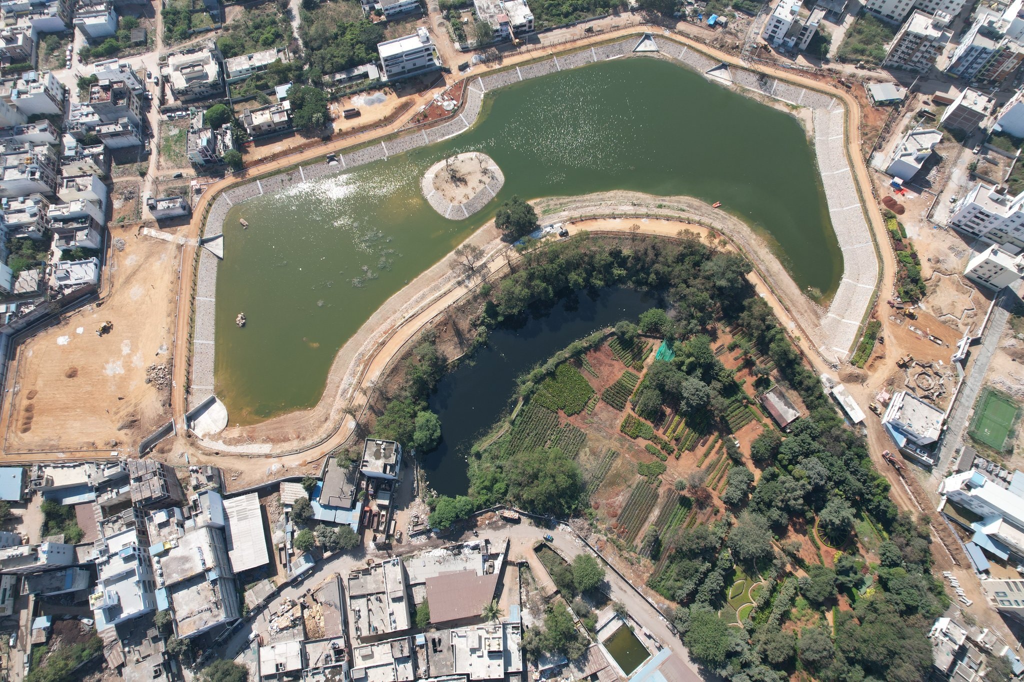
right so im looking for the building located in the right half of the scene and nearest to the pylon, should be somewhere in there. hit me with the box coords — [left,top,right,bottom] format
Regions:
[761,0,802,50]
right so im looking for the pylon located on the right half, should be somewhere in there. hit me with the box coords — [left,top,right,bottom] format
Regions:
[735,0,775,62]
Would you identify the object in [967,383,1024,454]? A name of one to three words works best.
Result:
sports court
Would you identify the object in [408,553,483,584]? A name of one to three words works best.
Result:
shed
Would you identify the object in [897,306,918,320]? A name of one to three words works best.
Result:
work vehicle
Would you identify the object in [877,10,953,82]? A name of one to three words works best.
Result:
building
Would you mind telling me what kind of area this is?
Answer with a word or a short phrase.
residential area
